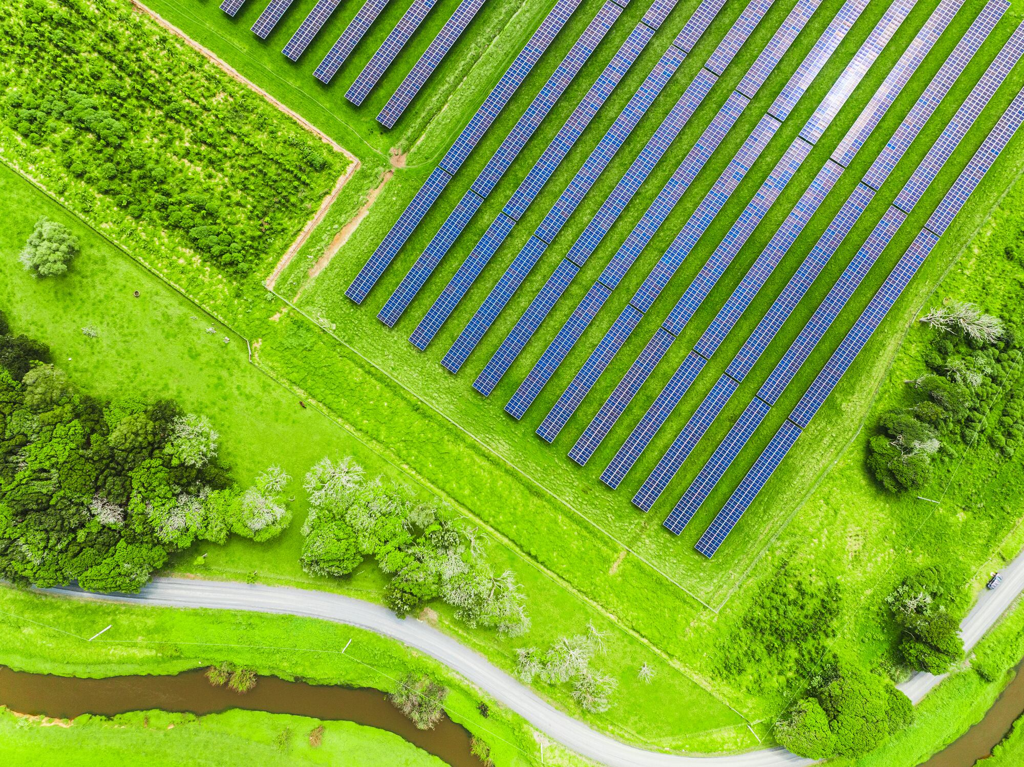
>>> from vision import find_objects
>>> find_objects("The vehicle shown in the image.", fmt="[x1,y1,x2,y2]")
[986,572,1002,589]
